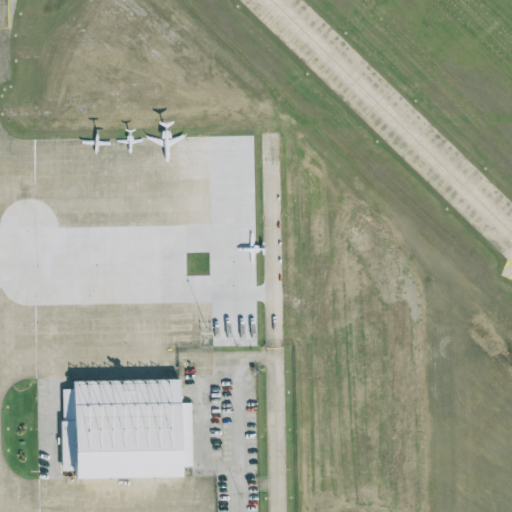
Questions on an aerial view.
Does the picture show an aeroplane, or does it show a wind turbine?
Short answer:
aeroplane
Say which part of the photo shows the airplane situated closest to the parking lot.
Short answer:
center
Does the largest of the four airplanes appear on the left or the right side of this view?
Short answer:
left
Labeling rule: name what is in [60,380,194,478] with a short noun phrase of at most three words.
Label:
hangar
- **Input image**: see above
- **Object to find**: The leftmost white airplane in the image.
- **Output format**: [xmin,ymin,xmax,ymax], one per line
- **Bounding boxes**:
[82,128,112,155]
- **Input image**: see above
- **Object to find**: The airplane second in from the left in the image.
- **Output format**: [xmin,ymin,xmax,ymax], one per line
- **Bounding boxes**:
[117,128,142,153]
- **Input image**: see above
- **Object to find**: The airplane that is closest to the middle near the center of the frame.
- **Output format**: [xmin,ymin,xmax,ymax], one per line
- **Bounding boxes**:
[238,233,266,266]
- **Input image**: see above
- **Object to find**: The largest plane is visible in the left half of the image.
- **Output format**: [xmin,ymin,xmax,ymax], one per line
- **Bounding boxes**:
[146,121,187,162]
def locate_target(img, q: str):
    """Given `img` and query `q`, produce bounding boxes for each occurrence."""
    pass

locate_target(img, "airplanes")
[82,128,112,155]
[117,128,142,153]
[146,121,187,162]
[238,233,266,266]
